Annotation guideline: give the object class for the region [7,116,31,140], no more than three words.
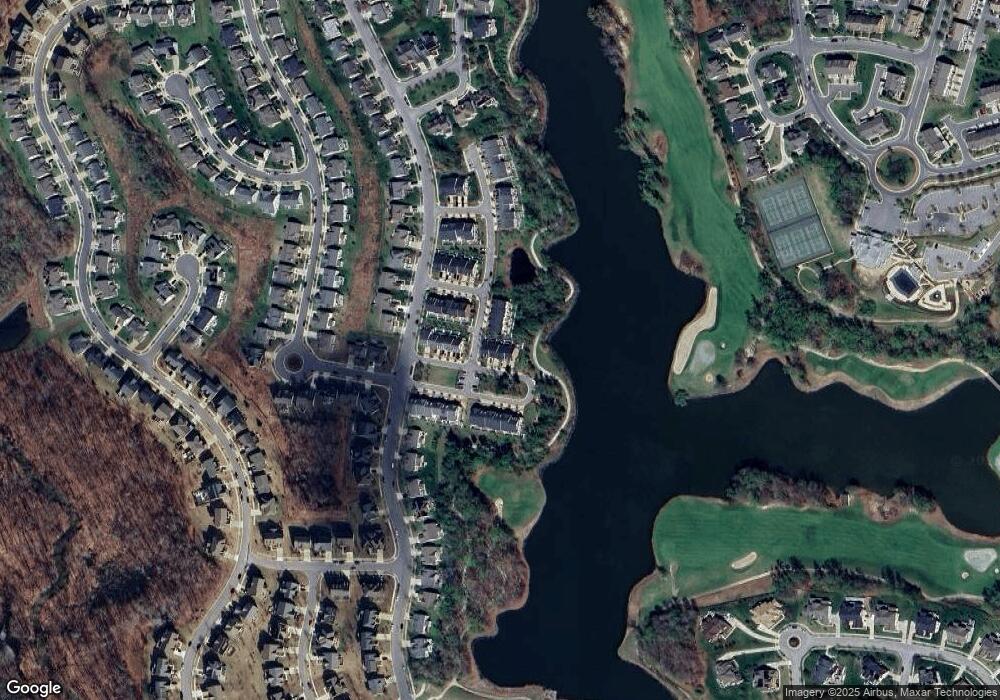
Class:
house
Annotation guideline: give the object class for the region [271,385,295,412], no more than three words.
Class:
house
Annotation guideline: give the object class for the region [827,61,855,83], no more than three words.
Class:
building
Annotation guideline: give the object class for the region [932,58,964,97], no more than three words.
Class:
building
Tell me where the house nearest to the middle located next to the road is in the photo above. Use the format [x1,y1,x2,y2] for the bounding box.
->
[479,337,516,365]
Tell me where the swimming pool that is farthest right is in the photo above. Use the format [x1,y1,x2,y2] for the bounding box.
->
[886,264,923,303]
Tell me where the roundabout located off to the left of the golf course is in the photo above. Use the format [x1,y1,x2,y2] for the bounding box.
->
[273,342,312,381]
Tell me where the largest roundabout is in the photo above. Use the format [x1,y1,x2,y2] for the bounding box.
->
[866,137,930,200]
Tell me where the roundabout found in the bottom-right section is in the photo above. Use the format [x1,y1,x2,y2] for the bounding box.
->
[778,625,810,657]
